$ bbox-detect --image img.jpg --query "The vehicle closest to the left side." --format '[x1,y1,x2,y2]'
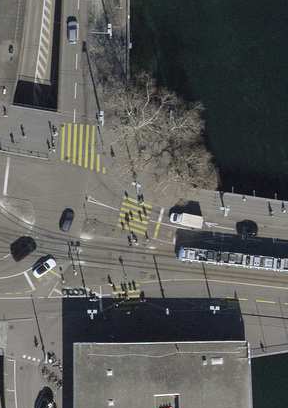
[14,244,38,264]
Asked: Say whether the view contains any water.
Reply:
Yes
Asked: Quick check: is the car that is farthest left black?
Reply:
Yes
